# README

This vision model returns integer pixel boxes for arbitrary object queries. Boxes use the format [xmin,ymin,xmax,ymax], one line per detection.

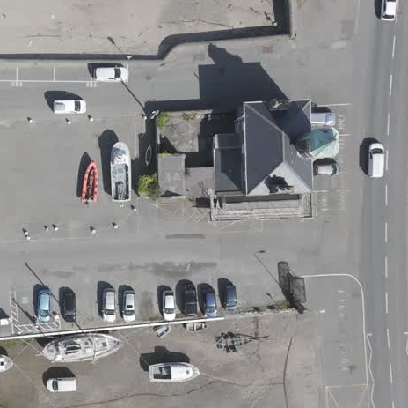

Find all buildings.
[210,98,315,222]
[158,155,186,196]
